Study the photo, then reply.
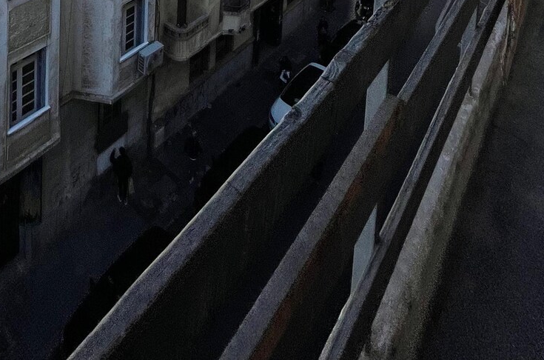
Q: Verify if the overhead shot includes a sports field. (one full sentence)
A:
No, there appears to be no sports field in this shot.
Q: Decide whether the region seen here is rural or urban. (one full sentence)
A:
The area is urban.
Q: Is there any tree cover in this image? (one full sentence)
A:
No, no tree cover is visible.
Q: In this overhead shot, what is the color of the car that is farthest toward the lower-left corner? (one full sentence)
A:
In this view, the car that is farthest toward the lower-left corner is black.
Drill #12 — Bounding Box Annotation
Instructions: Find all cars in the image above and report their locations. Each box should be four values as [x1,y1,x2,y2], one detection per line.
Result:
[120,140,278,340]
[318,1,372,60]
[257,52,358,141]
[3,284,120,360]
